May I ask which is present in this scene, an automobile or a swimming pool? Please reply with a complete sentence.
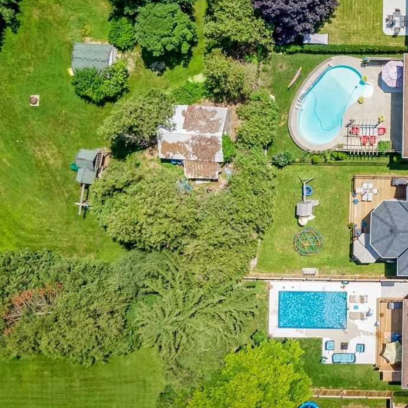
Of the two, only a swimming pool appears.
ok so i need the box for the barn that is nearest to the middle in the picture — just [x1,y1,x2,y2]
[158,105,233,179]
